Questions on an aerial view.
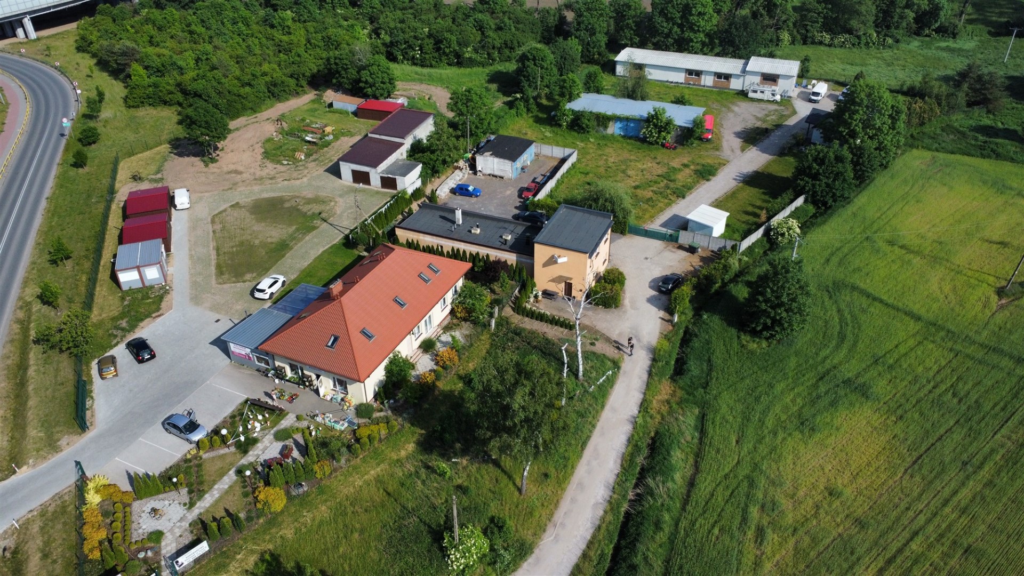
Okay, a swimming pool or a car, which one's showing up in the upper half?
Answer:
car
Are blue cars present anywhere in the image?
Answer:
Yes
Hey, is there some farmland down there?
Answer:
Yes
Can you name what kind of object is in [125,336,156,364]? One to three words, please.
car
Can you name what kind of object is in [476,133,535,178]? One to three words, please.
building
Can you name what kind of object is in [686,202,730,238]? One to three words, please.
shed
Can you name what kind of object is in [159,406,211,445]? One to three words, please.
car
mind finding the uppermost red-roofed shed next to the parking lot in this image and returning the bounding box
[126,189,175,221]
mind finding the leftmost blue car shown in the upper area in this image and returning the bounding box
[452,183,483,199]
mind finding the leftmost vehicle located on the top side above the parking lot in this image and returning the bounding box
[174,190,191,209]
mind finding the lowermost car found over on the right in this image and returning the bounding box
[654,269,685,291]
